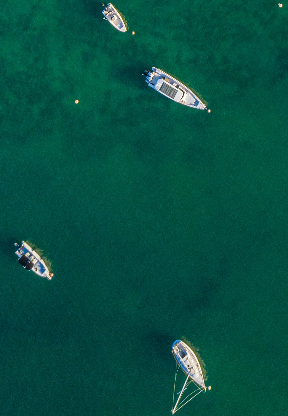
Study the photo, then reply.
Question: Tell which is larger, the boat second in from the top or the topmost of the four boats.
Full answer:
The boat second in from the top takes up more space than the topmost of the four boats does.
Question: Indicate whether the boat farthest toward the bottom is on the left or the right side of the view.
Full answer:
The boat farthest toward the bottom is on the right side of the image.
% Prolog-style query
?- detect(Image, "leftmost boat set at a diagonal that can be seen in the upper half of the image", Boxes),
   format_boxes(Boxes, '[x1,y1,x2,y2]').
[102,2,127,32]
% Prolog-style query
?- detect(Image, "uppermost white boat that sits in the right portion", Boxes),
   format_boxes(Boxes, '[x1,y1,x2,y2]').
[144,66,207,109]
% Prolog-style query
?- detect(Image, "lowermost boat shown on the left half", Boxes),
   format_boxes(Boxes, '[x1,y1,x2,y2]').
[15,239,50,278]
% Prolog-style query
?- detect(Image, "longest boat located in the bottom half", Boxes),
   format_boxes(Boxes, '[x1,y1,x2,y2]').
[173,334,206,414]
